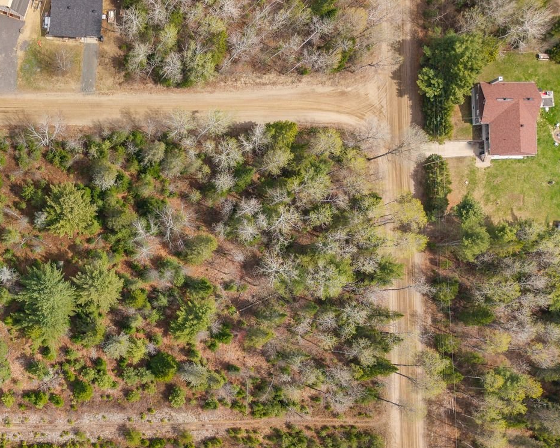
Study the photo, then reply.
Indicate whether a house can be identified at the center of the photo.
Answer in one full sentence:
No, looking at the center of the photo, there is no house.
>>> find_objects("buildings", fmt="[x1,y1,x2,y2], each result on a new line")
[470,78,543,158]
[0,0,30,21]
[48,0,104,42]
